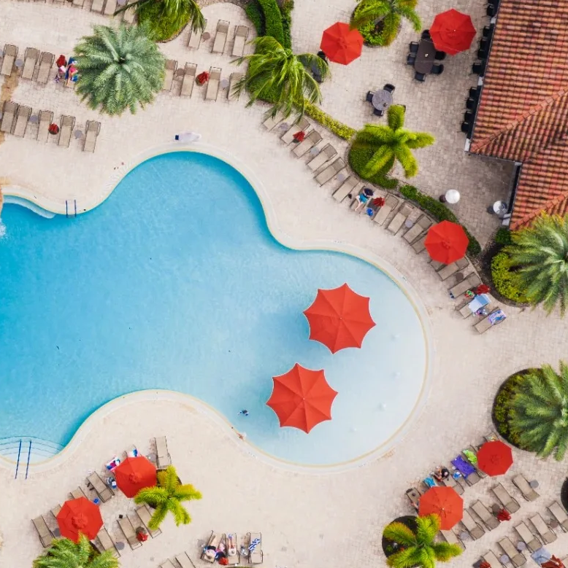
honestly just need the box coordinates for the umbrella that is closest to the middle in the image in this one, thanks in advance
[302,281,376,356]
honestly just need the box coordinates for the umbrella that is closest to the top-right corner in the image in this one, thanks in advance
[428,9,474,55]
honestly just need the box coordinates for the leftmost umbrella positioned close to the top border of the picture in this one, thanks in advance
[321,23,363,65]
